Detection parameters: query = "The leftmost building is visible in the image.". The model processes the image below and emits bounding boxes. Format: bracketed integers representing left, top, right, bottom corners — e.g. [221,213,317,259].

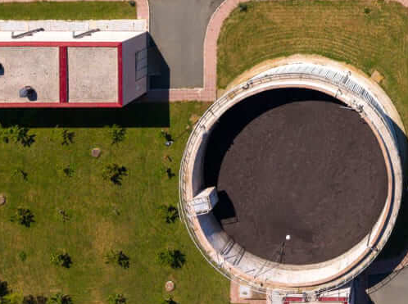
[0,29,146,108]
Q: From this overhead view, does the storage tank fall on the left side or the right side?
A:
right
